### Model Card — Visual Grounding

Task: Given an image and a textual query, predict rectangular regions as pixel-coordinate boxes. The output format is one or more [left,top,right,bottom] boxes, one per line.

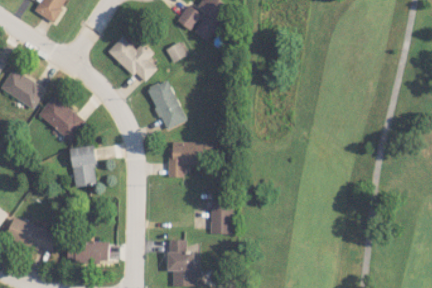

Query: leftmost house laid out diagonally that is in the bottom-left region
[9,218,52,254]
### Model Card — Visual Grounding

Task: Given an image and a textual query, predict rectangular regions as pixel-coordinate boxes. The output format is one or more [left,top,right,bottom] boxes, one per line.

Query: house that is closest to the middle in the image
[172,143,215,178]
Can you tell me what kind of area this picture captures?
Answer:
golf course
